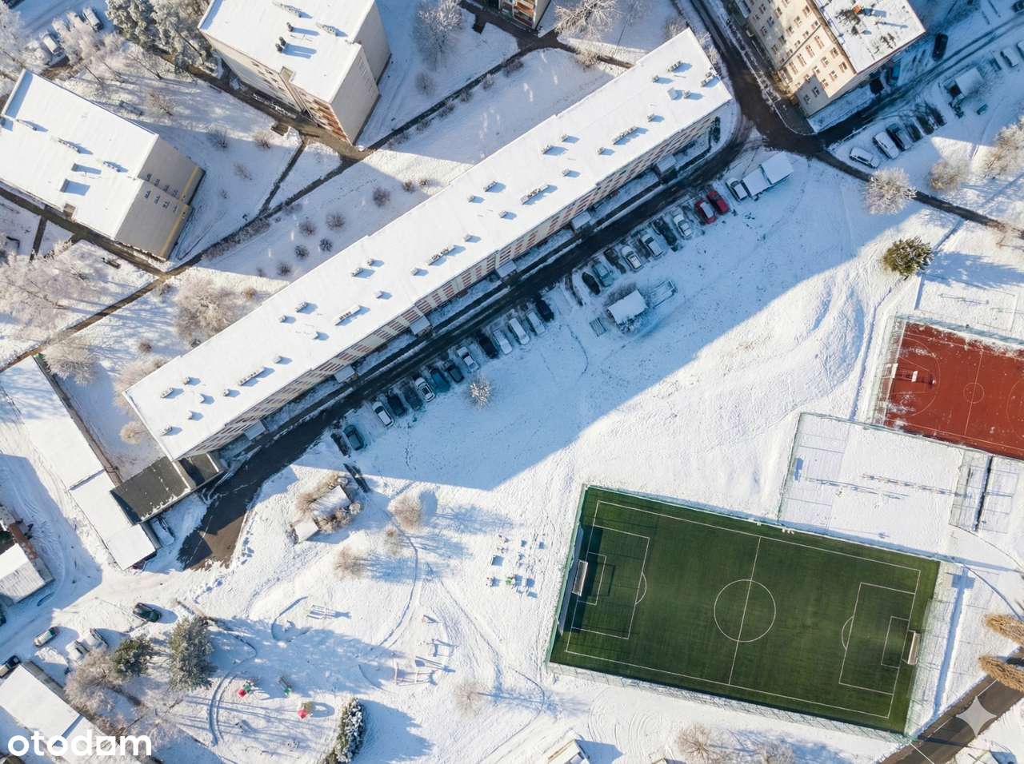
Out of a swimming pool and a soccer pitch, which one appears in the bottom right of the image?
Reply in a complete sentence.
There is a soccer pitch in the bottom right of the image.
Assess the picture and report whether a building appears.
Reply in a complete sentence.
Yes, the picture does show a building.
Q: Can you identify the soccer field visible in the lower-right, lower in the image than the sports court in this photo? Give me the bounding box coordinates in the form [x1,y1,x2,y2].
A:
[549,485,940,736]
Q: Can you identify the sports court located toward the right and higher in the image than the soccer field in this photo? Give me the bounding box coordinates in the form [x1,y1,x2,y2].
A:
[872,320,1024,458]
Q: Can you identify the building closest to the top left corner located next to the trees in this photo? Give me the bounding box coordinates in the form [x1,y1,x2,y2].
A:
[0,61,205,257]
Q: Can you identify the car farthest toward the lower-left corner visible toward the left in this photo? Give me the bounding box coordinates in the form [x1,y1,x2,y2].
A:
[0,654,22,677]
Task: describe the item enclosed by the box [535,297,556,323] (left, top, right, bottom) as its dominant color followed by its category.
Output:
black car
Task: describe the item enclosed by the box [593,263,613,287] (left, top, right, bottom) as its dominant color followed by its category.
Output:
blue car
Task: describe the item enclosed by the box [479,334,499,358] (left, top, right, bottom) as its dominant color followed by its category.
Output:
black car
